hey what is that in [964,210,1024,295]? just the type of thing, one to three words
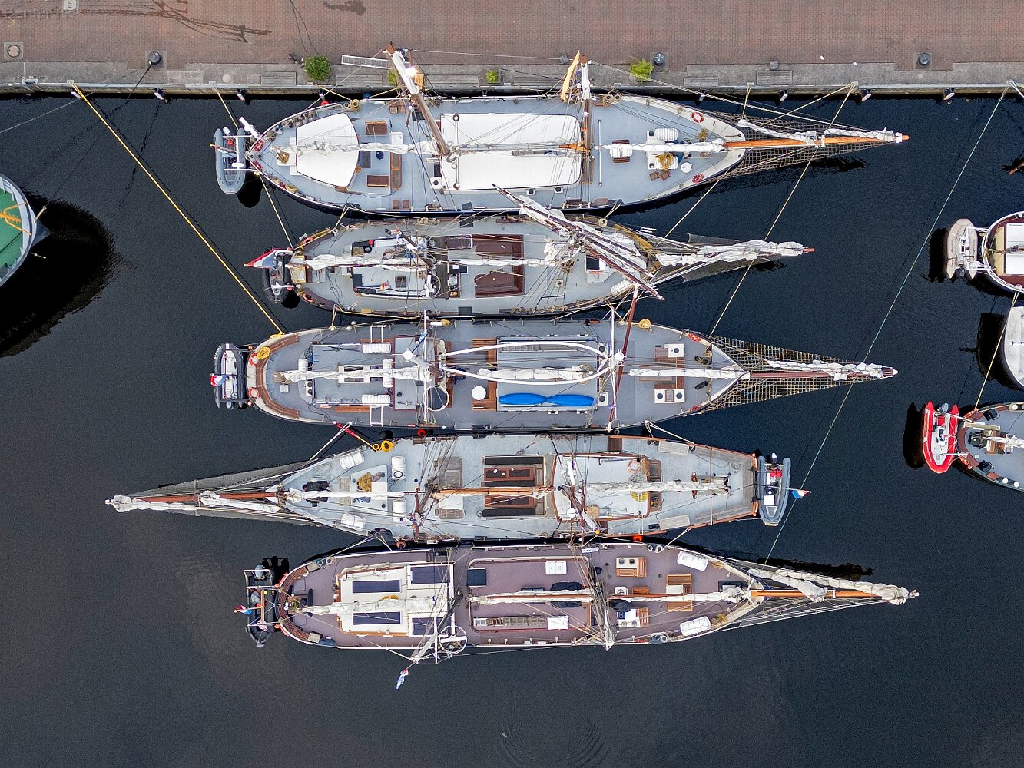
boat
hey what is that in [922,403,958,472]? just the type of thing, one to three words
boat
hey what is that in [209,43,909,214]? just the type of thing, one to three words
ship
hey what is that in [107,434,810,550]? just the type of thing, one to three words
ship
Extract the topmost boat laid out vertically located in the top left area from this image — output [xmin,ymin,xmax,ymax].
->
[214,126,248,193]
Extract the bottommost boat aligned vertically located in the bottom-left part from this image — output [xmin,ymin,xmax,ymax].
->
[246,573,275,644]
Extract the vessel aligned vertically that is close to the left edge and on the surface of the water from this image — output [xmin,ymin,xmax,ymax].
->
[0,173,50,292]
